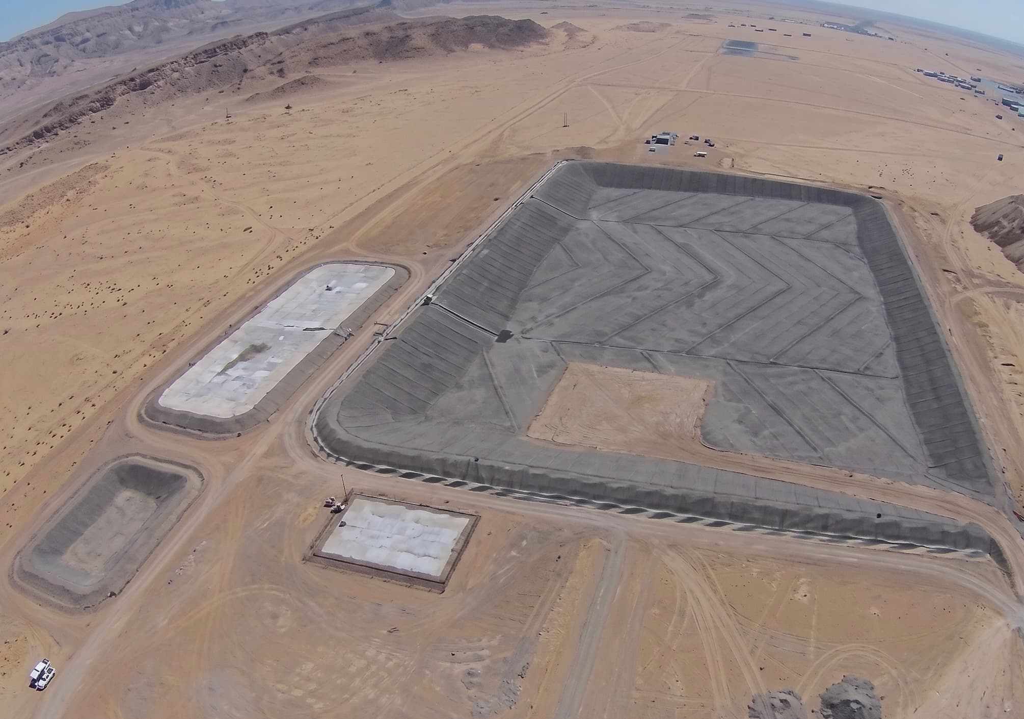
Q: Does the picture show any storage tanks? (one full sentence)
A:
Yes, I can see a storage tank in this picture.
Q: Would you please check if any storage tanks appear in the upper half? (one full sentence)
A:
No, no storage tank appears in the upper half.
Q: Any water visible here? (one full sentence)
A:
Yes, the picture does contain water.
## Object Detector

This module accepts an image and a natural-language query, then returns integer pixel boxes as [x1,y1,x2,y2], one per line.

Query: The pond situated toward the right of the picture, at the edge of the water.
[313,161,1018,599]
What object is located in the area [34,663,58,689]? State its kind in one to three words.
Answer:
truck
